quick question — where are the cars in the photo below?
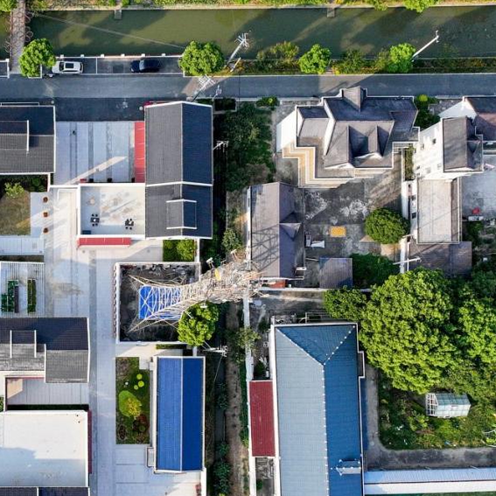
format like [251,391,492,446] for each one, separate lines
[51,61,83,75]
[130,58,160,74]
